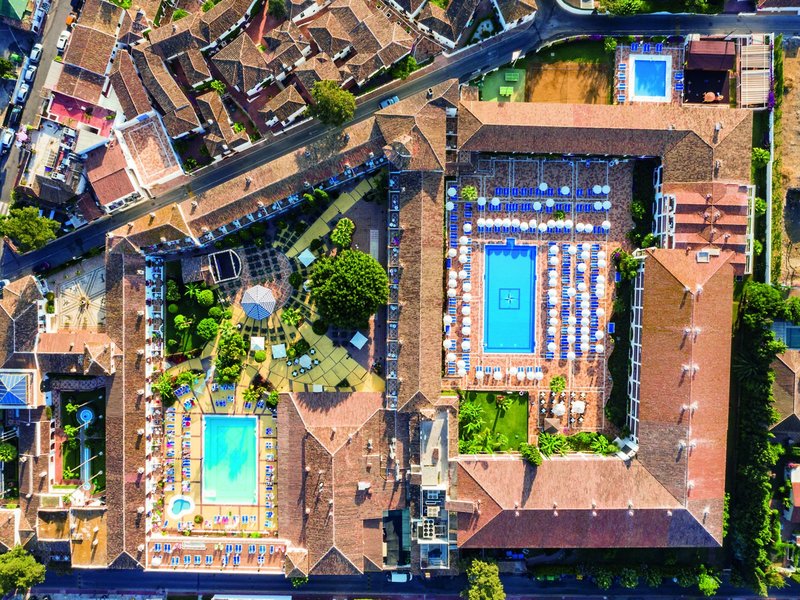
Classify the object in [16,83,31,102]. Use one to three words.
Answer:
car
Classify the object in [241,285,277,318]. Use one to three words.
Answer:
gazebo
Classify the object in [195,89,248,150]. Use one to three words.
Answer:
house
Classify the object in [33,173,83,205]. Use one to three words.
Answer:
building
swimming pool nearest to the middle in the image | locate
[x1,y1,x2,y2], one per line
[483,237,538,354]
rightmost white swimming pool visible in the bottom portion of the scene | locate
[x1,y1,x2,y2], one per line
[166,493,193,516]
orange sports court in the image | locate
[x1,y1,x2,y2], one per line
[526,62,613,103]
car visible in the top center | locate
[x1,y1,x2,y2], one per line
[379,94,400,109]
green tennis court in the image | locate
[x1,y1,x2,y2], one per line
[479,69,525,101]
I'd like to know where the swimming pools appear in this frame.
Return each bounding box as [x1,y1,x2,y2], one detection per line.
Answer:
[202,415,259,505]
[166,493,193,516]
[786,327,800,348]
[483,237,538,354]
[630,55,671,101]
